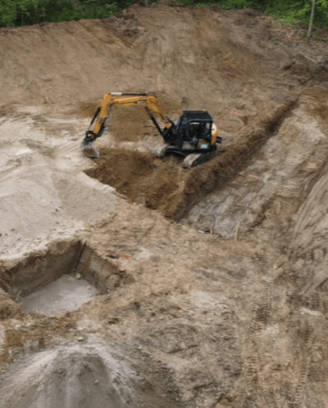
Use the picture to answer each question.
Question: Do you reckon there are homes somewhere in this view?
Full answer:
No, I can see no home in this picture.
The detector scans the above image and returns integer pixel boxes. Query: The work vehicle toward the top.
[80,90,229,173]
